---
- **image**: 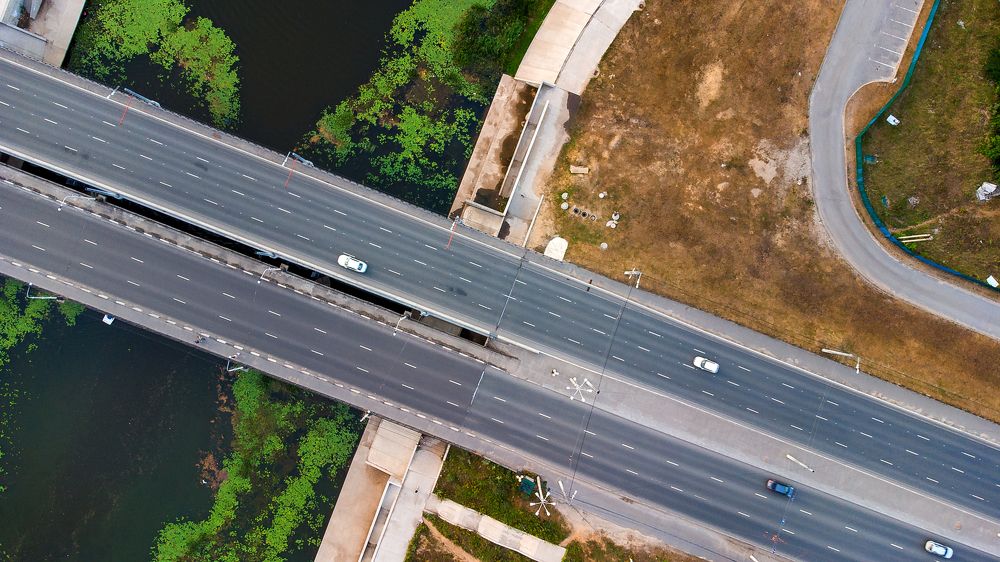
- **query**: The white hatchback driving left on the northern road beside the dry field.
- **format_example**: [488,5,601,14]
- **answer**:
[692,356,722,375]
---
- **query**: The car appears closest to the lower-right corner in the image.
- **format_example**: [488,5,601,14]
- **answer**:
[924,540,957,561]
